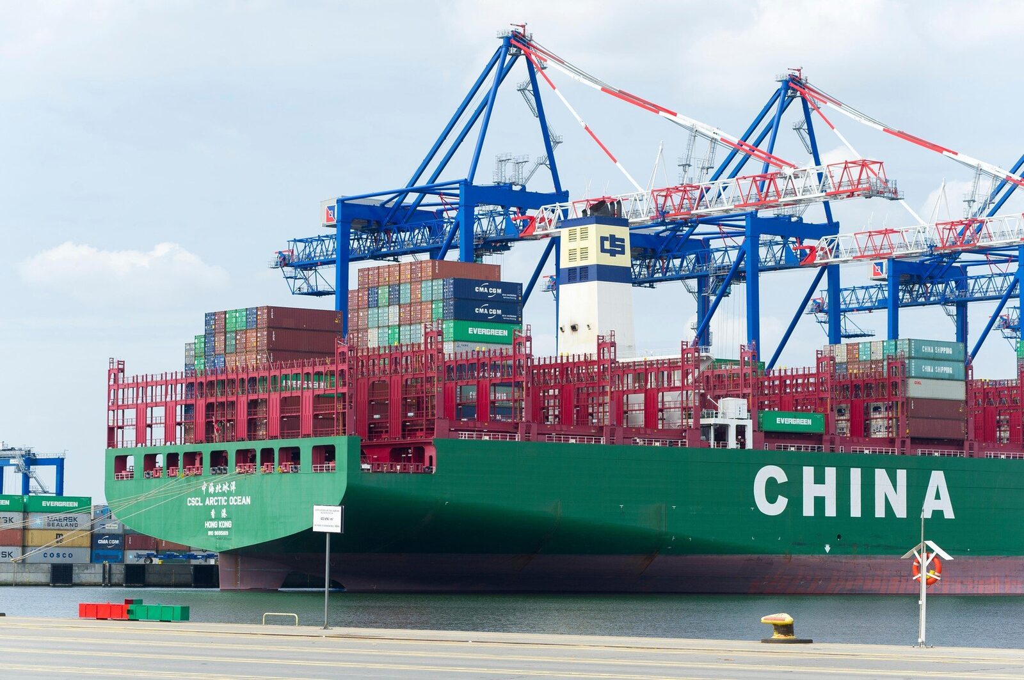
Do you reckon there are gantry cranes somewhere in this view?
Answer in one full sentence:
Yes, there is a gantry crane in the image.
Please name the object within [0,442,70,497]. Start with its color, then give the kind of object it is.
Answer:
blue crane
